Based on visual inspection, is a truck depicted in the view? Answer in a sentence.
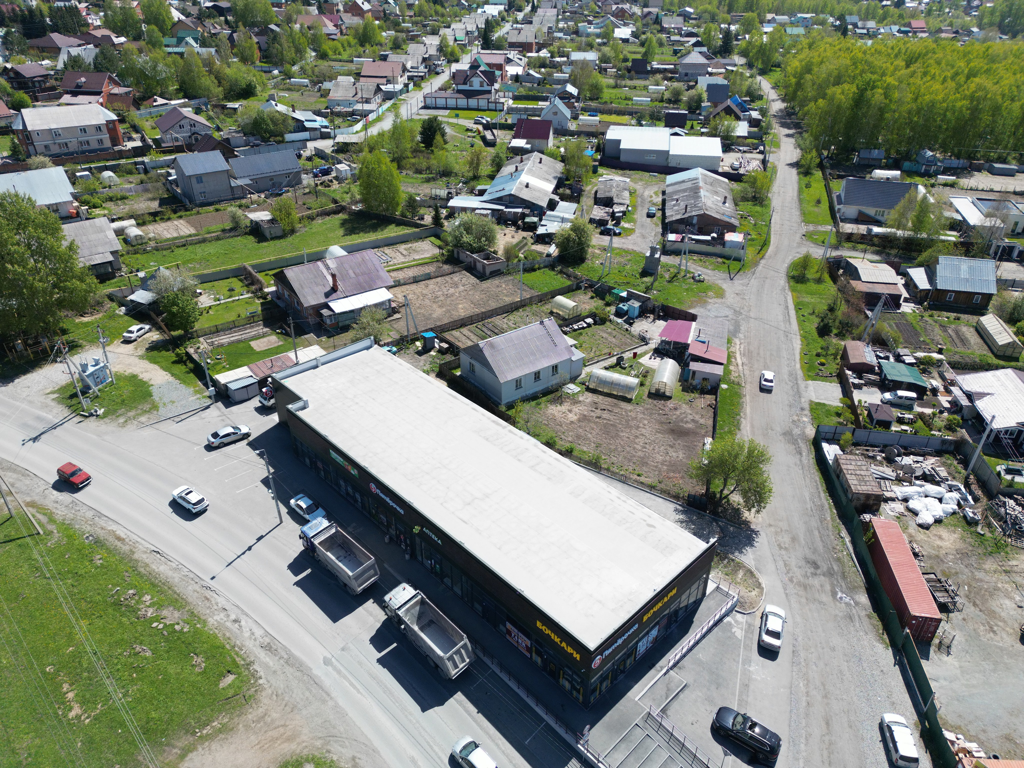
Yes, there's a truck here.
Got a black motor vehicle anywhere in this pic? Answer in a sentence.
Yes, a black motor vehicle appears in the view.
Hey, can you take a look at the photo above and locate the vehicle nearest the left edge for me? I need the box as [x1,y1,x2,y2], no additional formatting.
[57,462,93,490]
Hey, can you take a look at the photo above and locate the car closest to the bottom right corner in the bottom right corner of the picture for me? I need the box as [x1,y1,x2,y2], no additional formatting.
[879,709,922,768]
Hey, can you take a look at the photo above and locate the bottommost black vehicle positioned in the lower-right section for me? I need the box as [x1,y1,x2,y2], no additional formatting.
[709,710,782,762]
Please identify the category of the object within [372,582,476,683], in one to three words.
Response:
truck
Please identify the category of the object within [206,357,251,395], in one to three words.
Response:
shed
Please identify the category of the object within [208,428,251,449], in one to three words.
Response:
car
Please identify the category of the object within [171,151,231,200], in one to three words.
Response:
house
